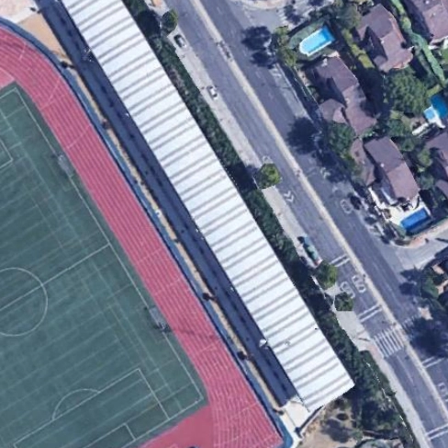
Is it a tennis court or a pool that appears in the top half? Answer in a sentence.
What appears in the top half is a pool.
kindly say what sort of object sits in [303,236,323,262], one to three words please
vehicle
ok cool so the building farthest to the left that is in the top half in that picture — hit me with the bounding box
[314,57,376,135]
